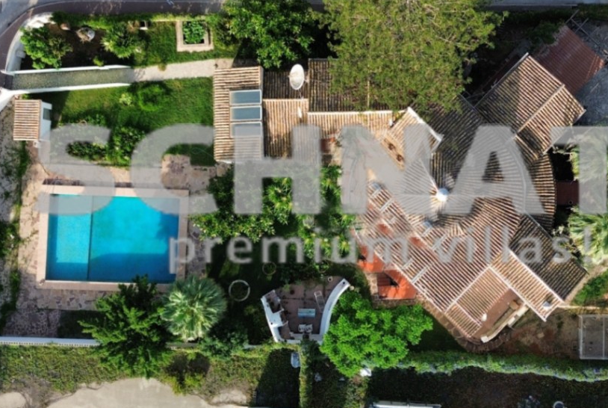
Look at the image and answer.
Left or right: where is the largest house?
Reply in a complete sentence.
It is on the right.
